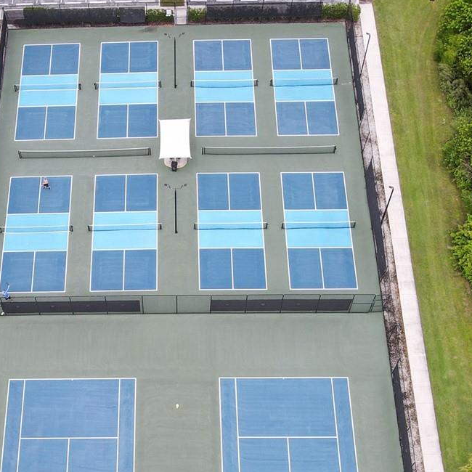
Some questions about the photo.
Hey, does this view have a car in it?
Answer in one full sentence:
No, the picture doesn't show any car.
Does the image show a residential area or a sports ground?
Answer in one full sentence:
This image shows a sports ground.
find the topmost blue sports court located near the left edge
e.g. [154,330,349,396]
[14,43,81,140]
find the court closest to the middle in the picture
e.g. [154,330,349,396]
[196,172,267,290]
